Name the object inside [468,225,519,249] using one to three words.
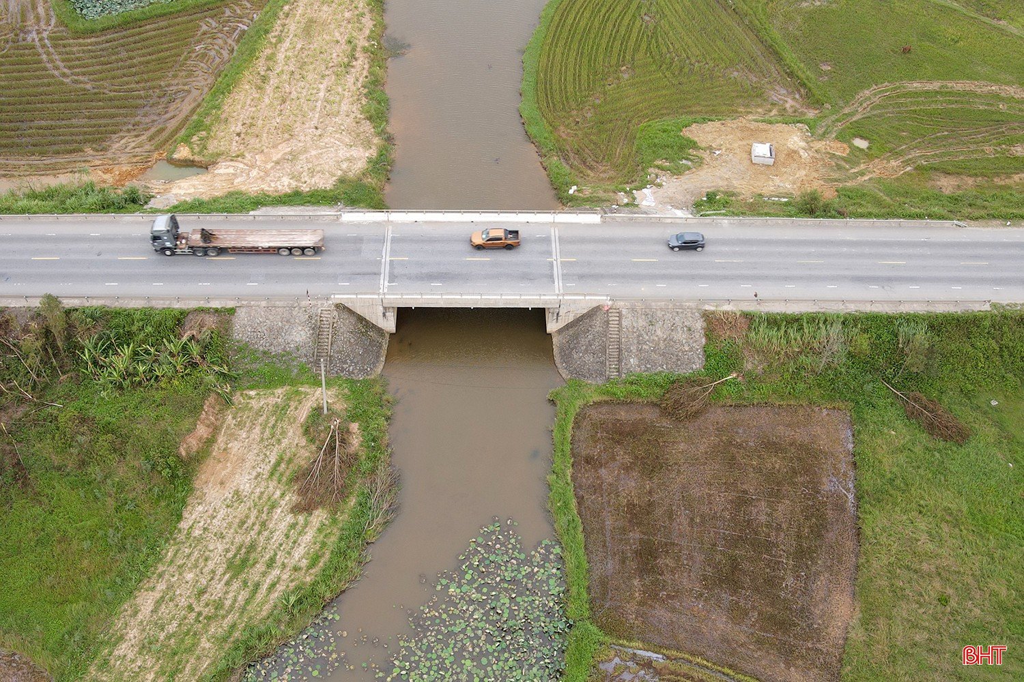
truck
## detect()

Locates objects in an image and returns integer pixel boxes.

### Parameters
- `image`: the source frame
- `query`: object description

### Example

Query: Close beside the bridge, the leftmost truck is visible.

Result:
[147,215,327,256]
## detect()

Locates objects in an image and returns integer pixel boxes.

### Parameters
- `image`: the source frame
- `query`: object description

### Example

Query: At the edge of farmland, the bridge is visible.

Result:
[330,210,611,333]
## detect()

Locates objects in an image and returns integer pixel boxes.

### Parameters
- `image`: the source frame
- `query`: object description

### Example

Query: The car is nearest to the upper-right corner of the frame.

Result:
[668,229,709,250]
